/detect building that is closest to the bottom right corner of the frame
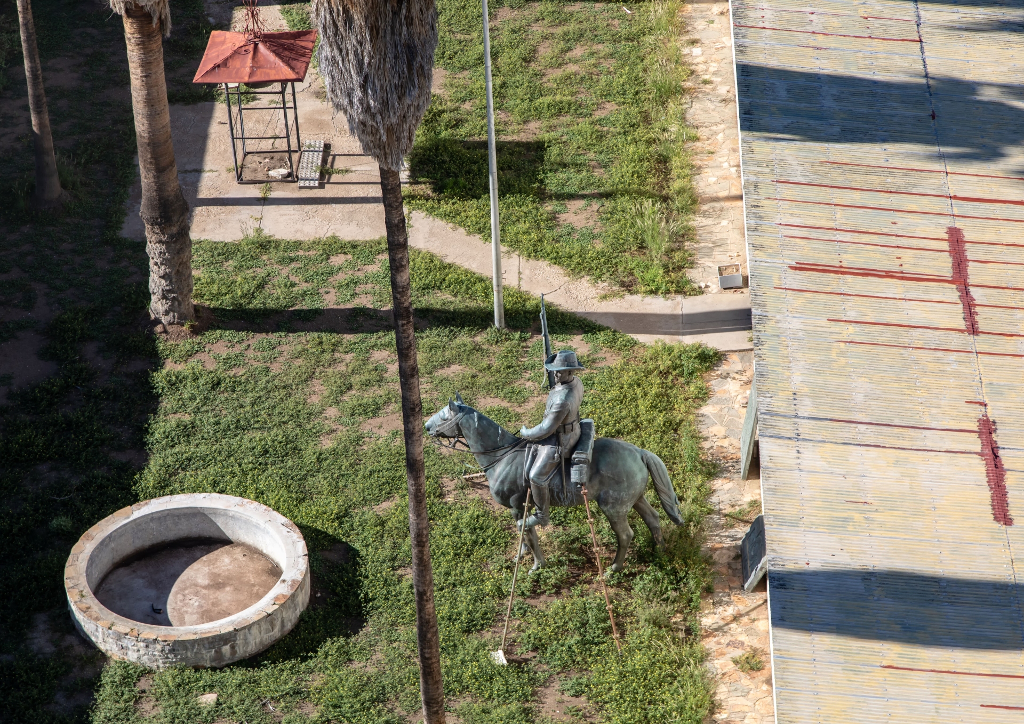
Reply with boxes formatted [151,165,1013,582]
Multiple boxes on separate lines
[726,0,1024,724]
